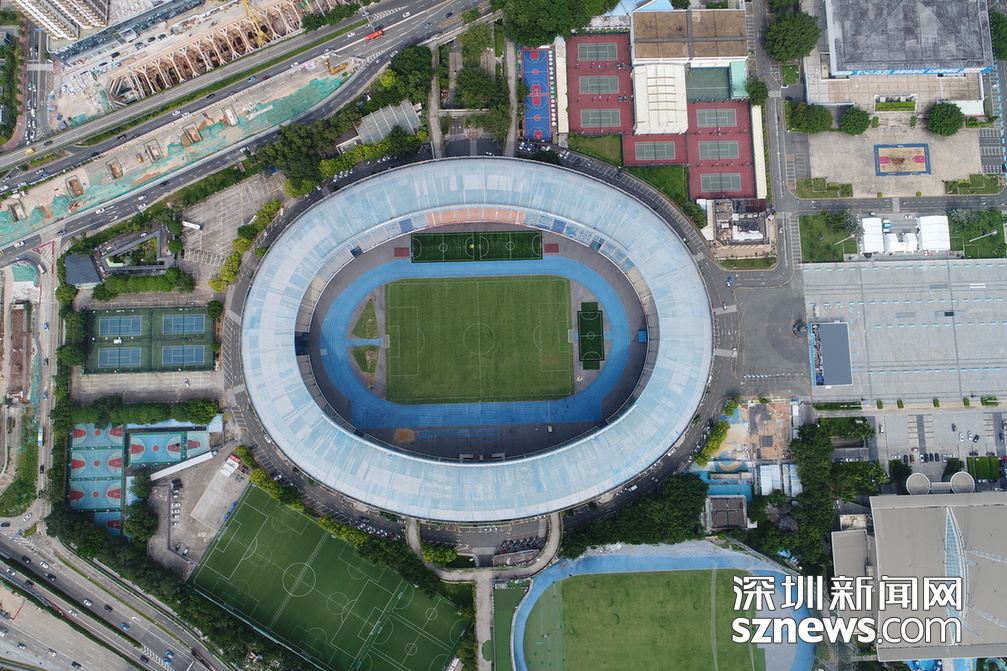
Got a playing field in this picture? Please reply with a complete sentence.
Yes, the photo shows a playing field.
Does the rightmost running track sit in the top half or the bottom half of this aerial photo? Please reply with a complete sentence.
It is in the bottom half that the rightmost running track appears.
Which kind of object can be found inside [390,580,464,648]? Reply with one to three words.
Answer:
soccer field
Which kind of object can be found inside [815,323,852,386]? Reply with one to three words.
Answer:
building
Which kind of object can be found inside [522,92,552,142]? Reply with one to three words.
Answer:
basketball court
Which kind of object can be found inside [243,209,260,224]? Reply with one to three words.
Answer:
vehicle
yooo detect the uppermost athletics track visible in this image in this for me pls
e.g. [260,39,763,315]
[321,256,629,428]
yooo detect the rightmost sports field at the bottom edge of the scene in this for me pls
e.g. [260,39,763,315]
[562,571,757,671]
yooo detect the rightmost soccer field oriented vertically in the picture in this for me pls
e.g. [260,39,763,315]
[577,302,604,370]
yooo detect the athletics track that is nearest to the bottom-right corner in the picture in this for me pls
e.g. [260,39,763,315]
[509,553,818,671]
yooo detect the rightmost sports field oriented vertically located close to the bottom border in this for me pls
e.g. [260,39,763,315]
[493,588,524,671]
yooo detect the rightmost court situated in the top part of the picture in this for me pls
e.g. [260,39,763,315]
[874,143,931,176]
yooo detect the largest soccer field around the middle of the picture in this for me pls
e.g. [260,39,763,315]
[385,275,574,404]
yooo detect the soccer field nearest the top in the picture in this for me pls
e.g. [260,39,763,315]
[411,230,543,264]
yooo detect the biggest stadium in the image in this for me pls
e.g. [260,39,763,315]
[239,155,715,524]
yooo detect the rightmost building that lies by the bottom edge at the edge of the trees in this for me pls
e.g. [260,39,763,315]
[861,489,1007,662]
